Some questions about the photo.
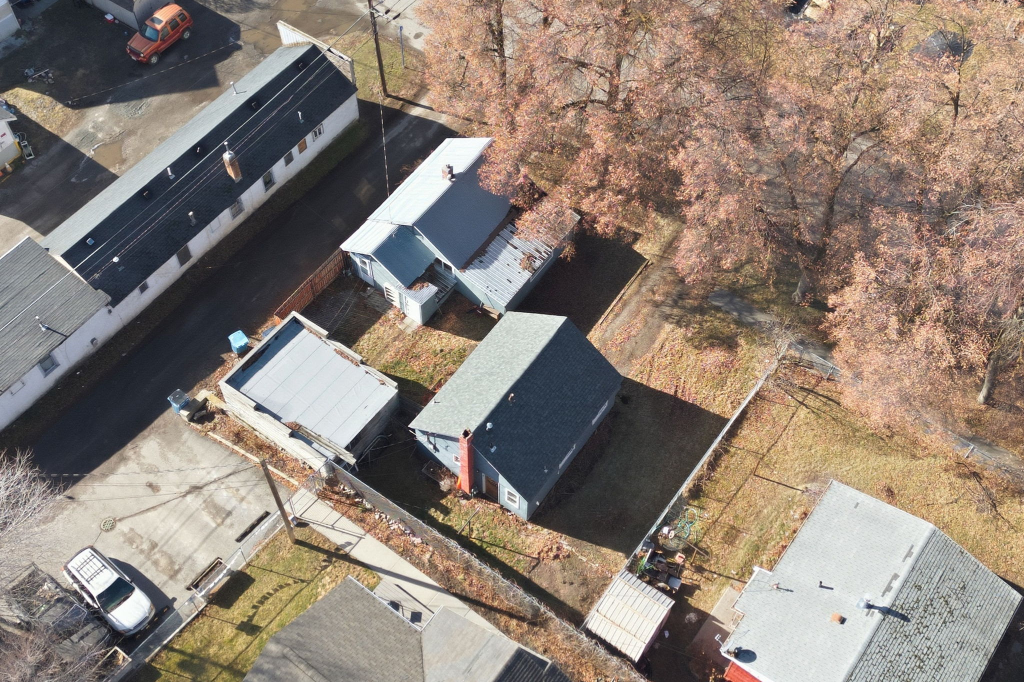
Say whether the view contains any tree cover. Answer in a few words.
Yes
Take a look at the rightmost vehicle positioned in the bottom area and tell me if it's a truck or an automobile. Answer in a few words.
automobile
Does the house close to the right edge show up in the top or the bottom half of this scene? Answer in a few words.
bottom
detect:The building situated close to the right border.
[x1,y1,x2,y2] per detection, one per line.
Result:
[716,476,1024,682]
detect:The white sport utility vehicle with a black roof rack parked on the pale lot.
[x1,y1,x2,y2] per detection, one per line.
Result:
[57,542,159,635]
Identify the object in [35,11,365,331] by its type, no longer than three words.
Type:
building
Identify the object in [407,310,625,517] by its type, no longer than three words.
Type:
house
